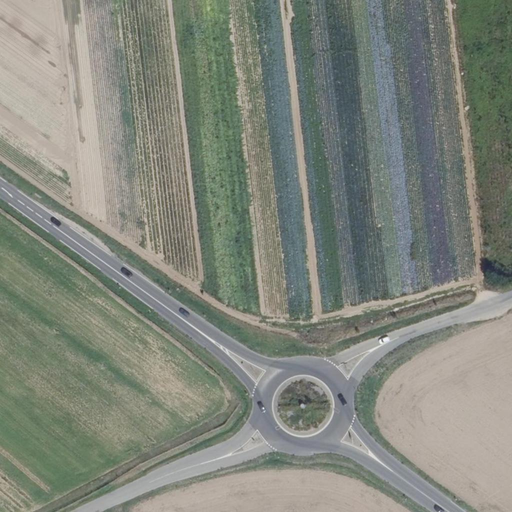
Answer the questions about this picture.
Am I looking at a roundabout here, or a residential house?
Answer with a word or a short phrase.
roundabout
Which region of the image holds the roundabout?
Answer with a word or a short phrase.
bottom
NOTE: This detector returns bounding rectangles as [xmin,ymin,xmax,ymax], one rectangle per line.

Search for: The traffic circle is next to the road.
[240,346,358,454]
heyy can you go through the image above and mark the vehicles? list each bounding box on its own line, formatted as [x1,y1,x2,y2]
[258,401,266,412]
[121,267,132,276]
[378,336,390,344]
[179,308,190,317]
[434,504,445,512]
[338,393,347,406]
[50,216,62,226]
